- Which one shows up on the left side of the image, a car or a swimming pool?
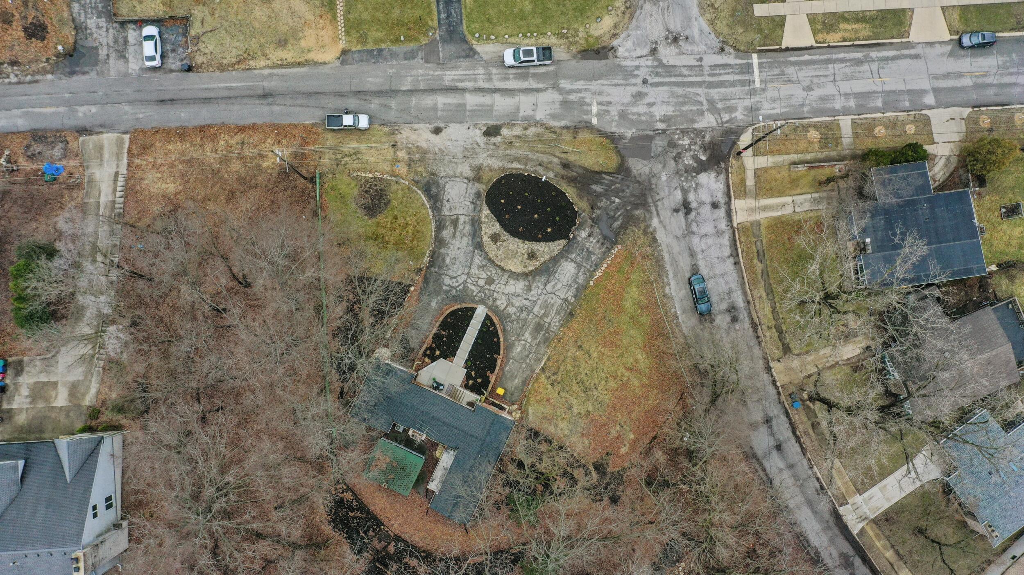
car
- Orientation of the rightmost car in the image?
from side to side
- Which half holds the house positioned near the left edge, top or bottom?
bottom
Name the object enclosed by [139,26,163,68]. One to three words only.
car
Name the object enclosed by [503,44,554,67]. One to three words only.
truck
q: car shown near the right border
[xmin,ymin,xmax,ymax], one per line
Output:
[957,29,999,50]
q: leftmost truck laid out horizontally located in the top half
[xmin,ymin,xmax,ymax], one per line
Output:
[324,110,371,131]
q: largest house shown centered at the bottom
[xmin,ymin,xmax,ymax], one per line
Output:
[349,360,515,525]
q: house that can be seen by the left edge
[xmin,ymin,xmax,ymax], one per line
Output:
[0,435,129,575]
